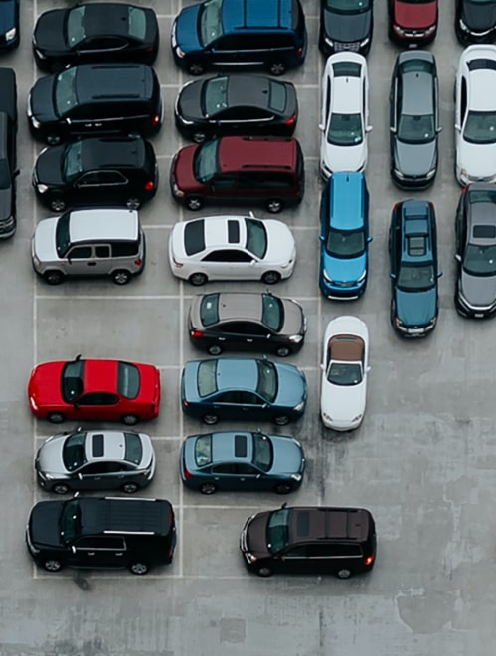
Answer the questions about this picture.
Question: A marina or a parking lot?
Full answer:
This looks like a parking lot.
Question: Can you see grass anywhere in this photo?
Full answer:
No, the picture contains no grass.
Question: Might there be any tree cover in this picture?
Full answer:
No, tree cover can't be seen anywhere here.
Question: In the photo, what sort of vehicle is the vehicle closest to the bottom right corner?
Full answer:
Looking closely, the vehicle closest to the bottom right corner is a car.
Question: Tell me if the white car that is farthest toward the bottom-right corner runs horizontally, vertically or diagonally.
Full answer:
The white car that is farthest toward the bottom-right corner has been laid out vertically relative to the frame.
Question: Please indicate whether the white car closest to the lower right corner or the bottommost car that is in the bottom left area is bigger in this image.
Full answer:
It is the bottommost car that is in the bottom left area that is larger, not the white car closest to the lower right corner.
